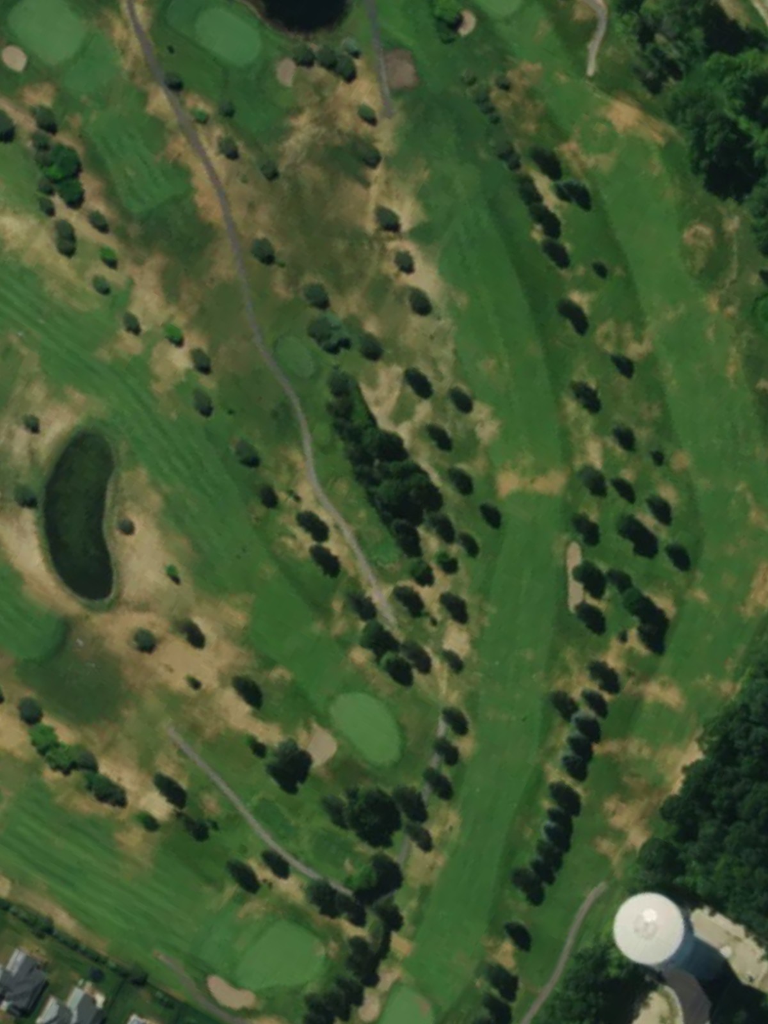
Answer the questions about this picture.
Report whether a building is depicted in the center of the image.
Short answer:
No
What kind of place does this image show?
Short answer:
golf course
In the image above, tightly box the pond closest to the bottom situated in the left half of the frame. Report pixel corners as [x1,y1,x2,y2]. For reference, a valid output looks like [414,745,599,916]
[44,427,116,601]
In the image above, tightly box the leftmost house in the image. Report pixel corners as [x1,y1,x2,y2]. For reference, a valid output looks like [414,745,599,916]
[0,947,48,1022]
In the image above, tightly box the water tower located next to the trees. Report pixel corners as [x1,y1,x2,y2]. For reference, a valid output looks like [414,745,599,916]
[614,892,726,984]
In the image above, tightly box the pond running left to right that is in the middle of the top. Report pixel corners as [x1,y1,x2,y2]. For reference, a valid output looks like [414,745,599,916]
[261,0,352,35]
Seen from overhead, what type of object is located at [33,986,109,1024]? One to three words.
house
